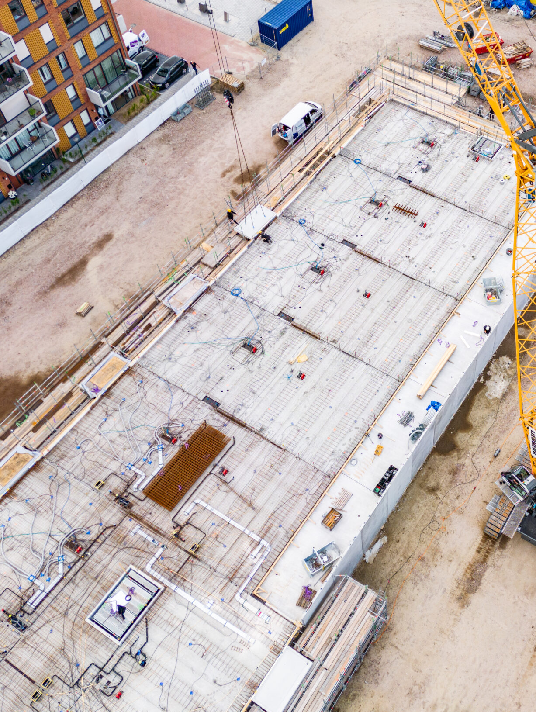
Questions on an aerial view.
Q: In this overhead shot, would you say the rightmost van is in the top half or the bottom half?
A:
top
